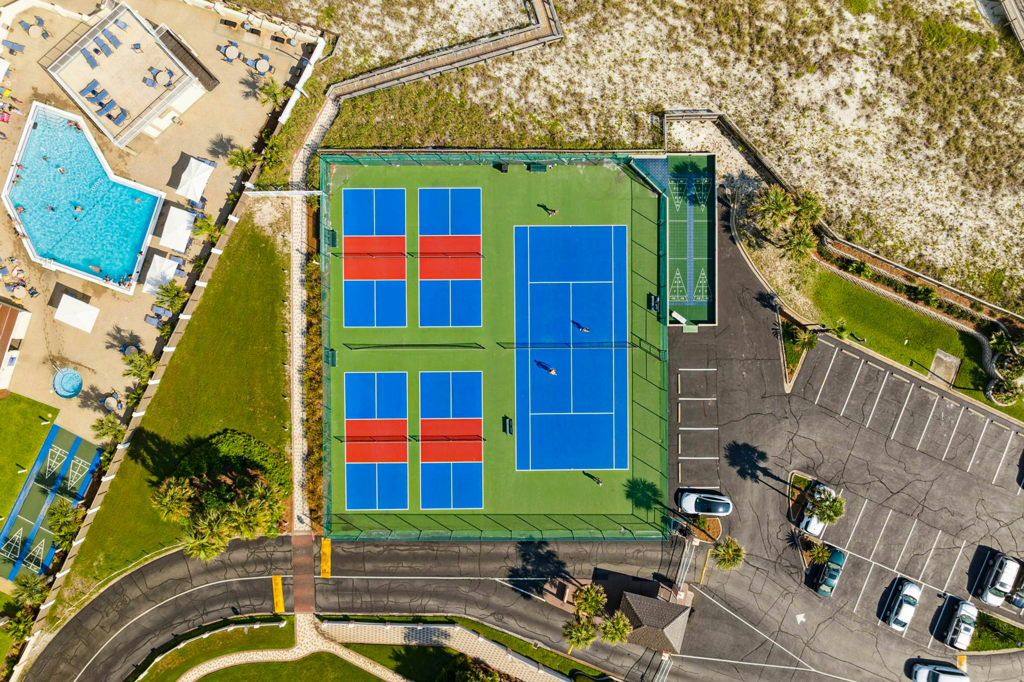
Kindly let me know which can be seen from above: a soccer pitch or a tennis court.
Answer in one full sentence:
Looking from above, you can make out a tennis court.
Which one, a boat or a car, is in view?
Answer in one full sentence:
This aerial view contains a car.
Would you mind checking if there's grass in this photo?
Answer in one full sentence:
Yes, there is grass in the image.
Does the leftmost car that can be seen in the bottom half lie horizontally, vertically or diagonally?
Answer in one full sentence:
I'd say the leftmost car that can be seen in the bottom half is aligned horizontally in the picture.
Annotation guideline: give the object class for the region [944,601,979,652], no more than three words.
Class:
car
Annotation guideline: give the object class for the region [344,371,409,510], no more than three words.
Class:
sports court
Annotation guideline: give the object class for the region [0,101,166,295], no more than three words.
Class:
swimming pool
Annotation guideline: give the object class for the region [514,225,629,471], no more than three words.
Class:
tennis court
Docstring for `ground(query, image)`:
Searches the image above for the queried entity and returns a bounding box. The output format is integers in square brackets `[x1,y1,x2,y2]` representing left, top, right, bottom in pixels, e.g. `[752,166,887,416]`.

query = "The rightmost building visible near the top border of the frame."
[49,3,206,156]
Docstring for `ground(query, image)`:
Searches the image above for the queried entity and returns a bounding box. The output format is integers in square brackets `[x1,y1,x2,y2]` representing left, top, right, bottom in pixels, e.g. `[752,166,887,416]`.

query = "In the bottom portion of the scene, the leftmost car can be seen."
[680,492,732,517]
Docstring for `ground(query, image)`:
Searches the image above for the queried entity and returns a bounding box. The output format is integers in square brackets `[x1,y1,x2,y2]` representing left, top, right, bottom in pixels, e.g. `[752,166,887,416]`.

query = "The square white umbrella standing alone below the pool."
[54,294,100,333]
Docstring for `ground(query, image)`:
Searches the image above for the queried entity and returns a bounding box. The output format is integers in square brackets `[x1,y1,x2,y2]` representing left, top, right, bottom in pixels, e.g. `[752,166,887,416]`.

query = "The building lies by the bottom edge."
[615,590,691,655]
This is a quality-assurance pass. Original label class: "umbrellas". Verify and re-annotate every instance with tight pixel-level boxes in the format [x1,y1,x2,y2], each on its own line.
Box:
[176,157,214,203]
[0,60,13,85]
[142,255,179,295]
[159,206,196,253]
[54,294,100,333]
